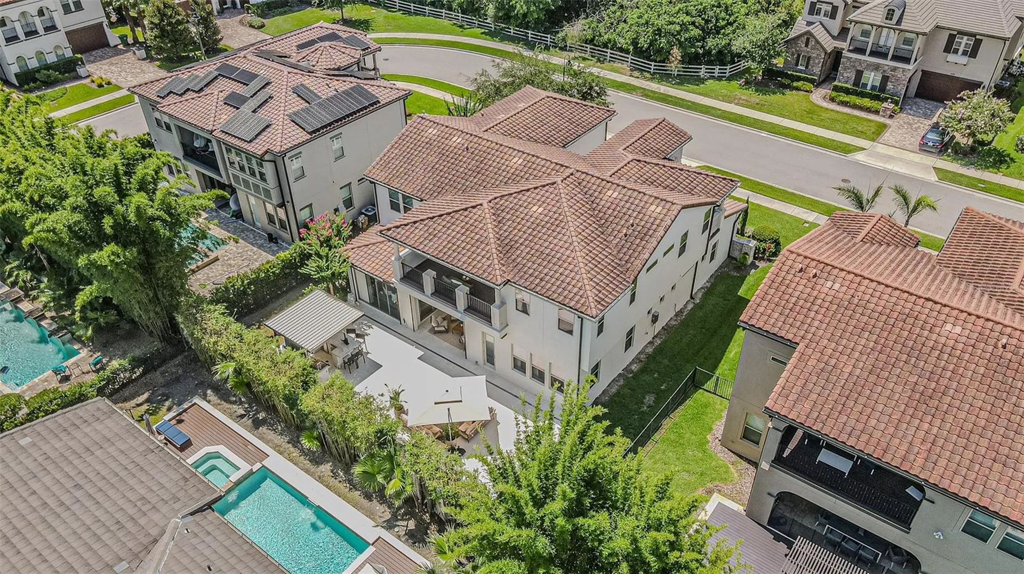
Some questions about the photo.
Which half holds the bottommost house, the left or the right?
left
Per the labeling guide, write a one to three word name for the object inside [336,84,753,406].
house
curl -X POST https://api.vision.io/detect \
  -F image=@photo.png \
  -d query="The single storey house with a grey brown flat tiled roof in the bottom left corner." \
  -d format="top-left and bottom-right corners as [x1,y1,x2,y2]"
[0,399,293,574]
